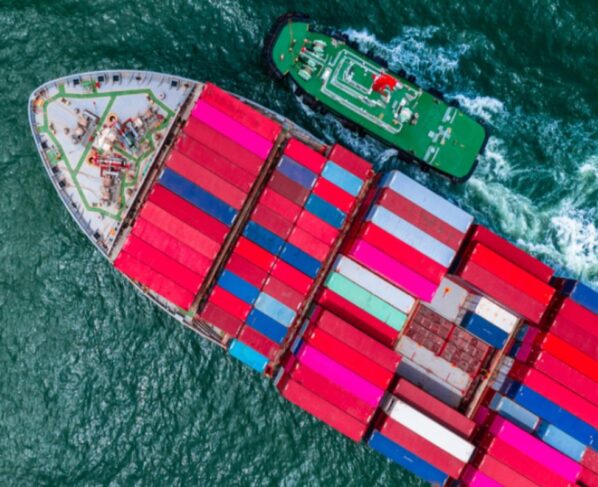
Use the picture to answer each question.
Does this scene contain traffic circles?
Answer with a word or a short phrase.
No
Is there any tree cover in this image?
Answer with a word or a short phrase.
No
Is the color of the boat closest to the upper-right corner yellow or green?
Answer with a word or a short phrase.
green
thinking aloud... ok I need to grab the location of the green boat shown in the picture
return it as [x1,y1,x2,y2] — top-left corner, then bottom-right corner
[265,13,489,183]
